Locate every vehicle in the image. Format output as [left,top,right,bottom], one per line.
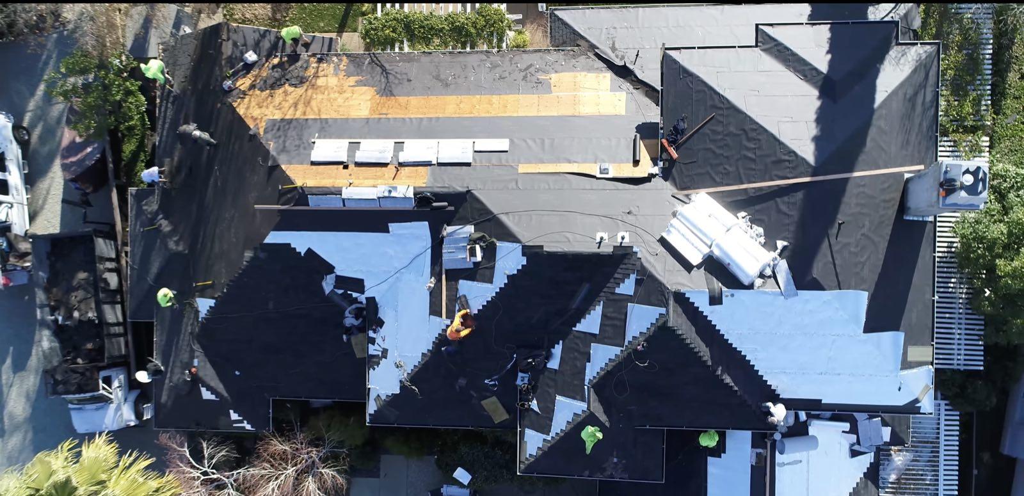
[0,112,31,285]
[22,219,149,435]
